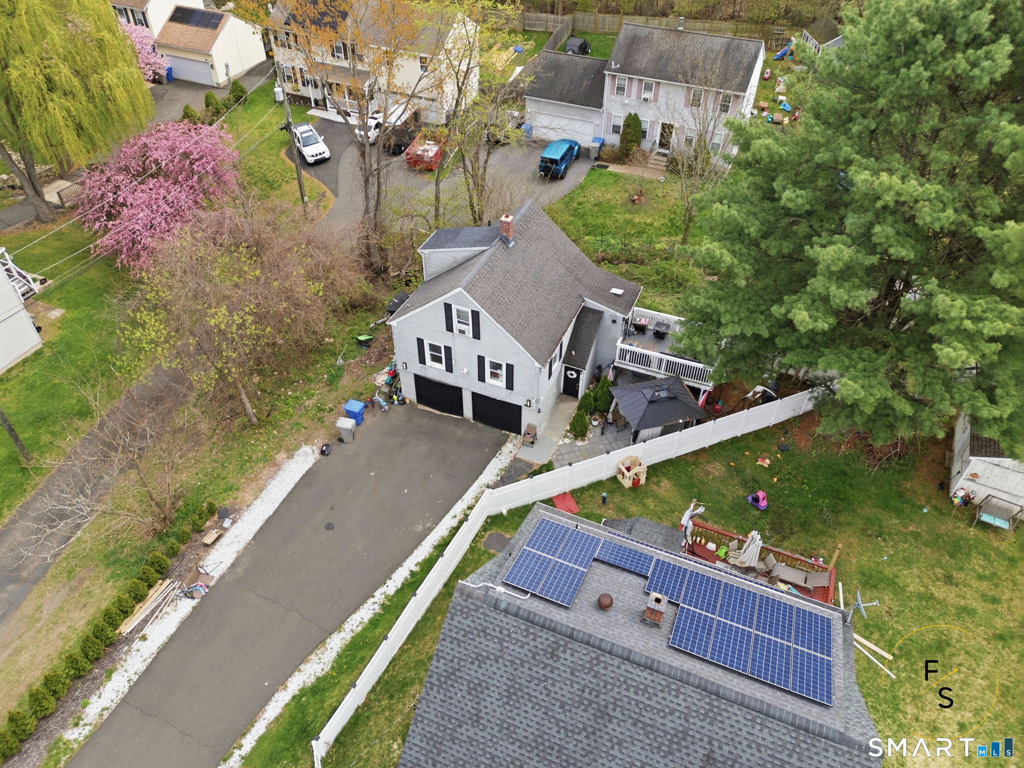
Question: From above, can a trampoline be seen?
No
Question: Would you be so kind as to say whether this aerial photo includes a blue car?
Yes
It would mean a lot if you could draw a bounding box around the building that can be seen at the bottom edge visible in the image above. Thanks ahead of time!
[401,499,872,768]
